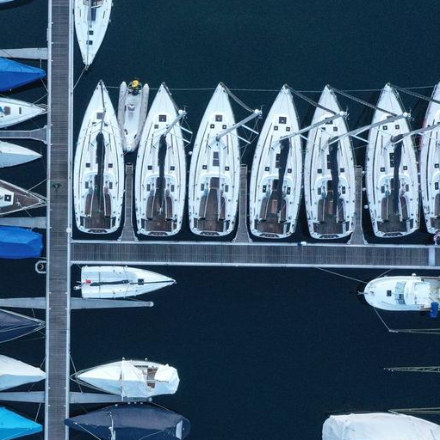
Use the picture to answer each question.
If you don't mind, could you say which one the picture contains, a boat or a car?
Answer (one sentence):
Of the two, only a boat appears.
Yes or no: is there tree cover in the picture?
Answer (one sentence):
No, there's no tree cover in this view.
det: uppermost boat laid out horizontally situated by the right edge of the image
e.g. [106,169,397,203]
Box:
[317,269,440,330]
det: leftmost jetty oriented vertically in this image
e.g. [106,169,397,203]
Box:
[36,0,73,440]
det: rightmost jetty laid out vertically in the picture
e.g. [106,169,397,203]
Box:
[348,166,367,242]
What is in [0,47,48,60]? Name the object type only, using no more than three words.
pier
